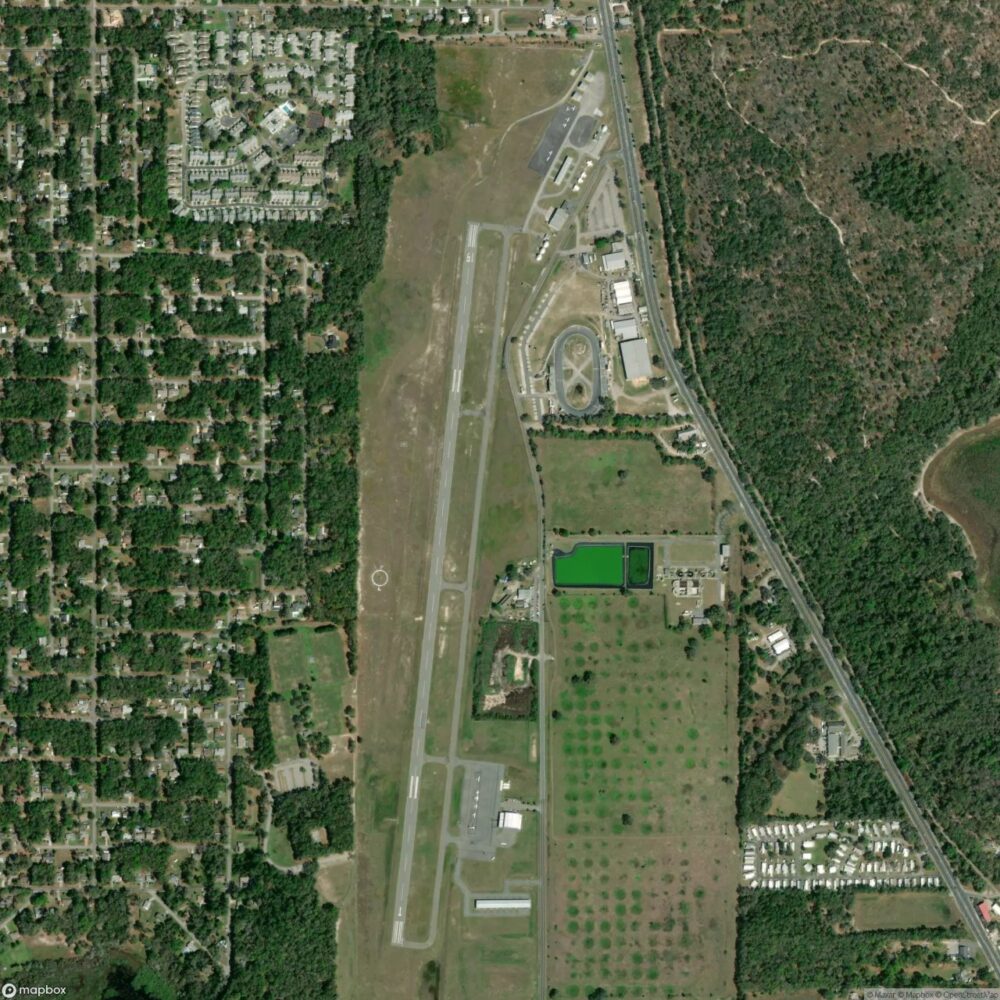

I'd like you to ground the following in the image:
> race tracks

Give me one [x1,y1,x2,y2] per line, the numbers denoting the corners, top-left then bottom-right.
[554,324,602,416]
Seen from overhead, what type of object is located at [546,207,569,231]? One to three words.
hangar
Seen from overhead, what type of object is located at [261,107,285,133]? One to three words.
building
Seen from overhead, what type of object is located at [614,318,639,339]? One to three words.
building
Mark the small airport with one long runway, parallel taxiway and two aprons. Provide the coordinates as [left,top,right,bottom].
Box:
[392,47,611,946]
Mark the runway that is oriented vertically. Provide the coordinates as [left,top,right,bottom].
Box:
[392,223,479,945]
